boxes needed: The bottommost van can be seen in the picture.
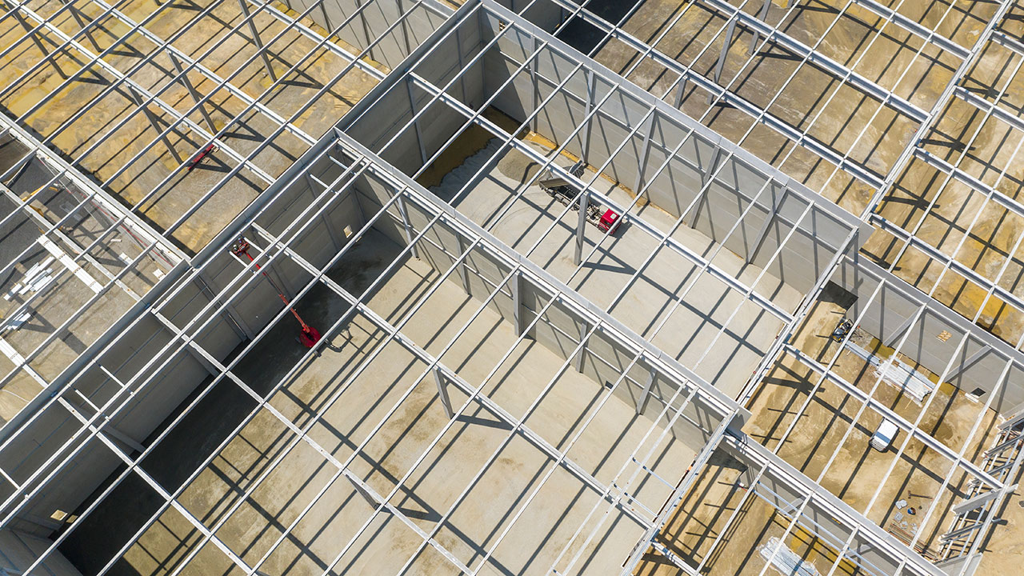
[869,423,899,454]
